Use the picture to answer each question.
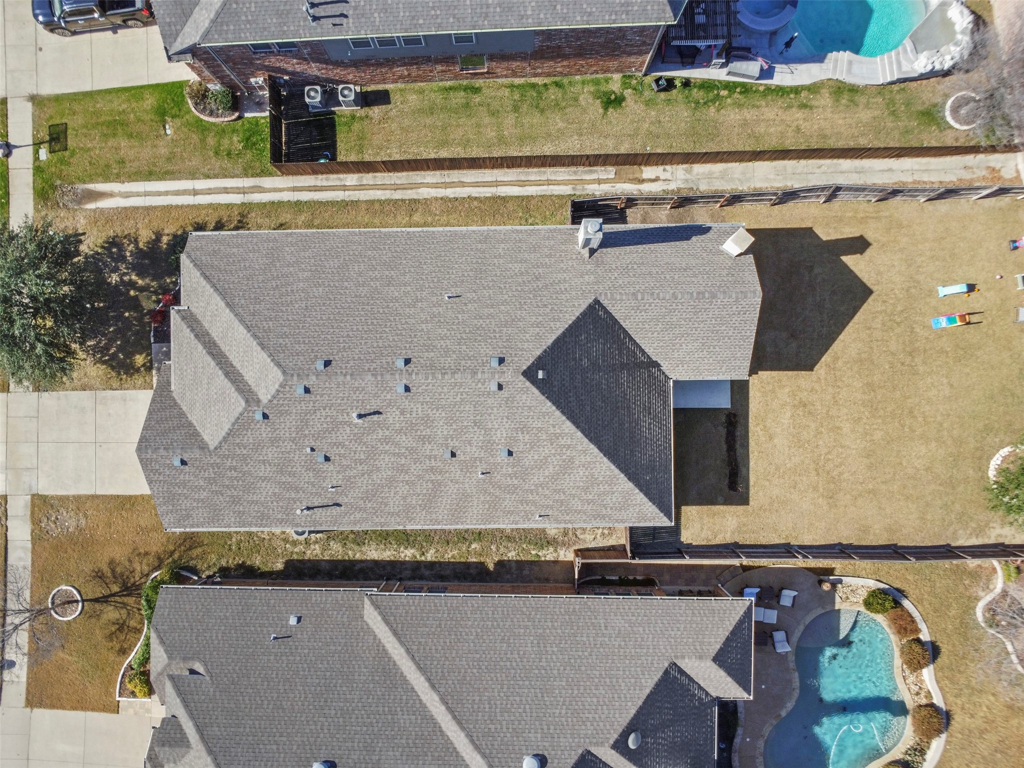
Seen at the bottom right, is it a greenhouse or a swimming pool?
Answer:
swimming pool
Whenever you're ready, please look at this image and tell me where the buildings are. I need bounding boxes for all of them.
[136,219,762,533]
[143,575,755,768]
[151,0,689,97]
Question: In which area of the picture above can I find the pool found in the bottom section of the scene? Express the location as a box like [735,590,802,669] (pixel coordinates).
[759,601,916,768]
